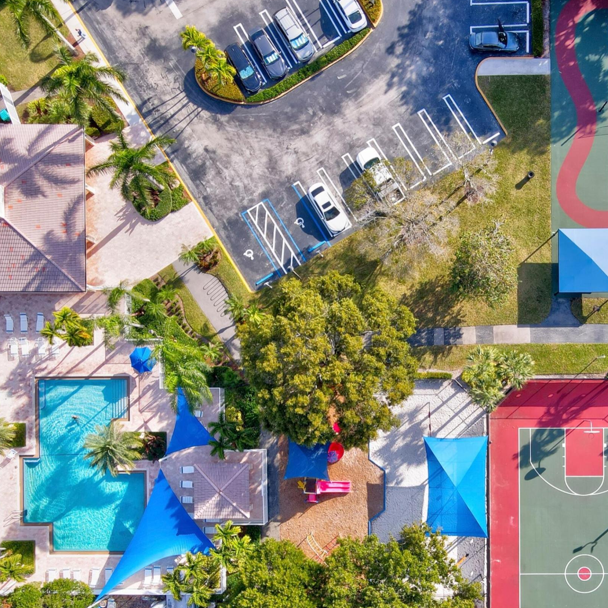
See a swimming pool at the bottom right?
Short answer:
No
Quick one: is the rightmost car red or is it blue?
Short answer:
blue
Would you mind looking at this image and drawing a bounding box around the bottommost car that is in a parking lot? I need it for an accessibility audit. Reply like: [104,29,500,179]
[306,181,348,236]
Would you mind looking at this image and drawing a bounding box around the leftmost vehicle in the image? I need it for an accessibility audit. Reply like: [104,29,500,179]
[224,42,265,96]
